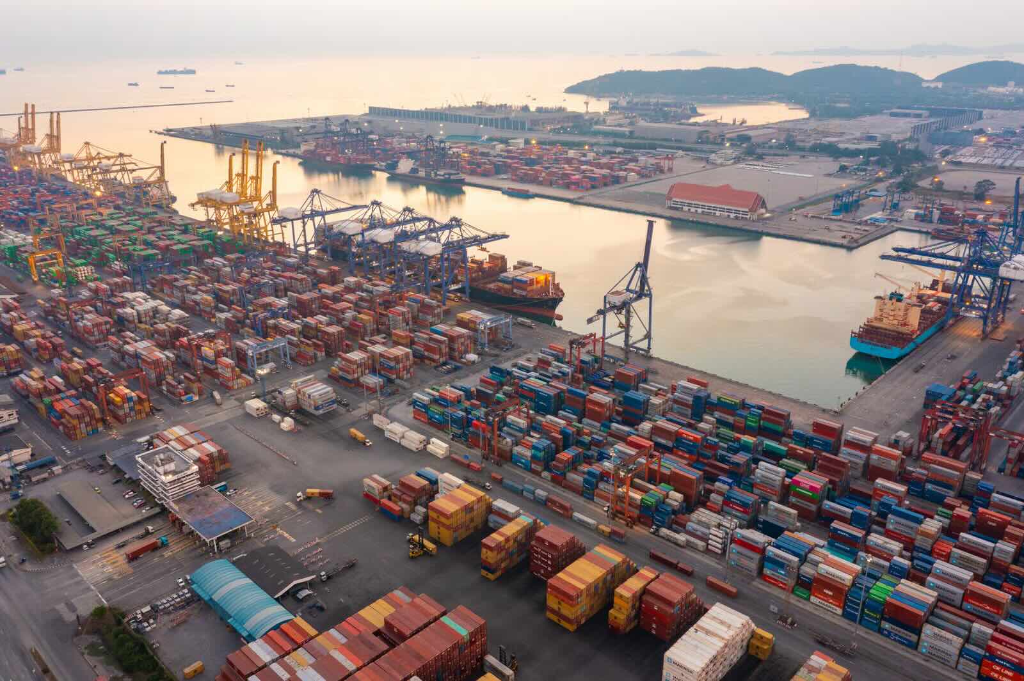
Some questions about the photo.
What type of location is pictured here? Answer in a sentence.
What you see here is a port.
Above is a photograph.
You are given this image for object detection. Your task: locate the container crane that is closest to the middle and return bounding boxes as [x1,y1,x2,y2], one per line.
[481,312,518,353]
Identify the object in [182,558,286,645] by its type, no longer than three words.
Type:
building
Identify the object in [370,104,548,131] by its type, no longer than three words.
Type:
building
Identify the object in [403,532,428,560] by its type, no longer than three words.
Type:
work vehicle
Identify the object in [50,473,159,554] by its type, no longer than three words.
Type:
shed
